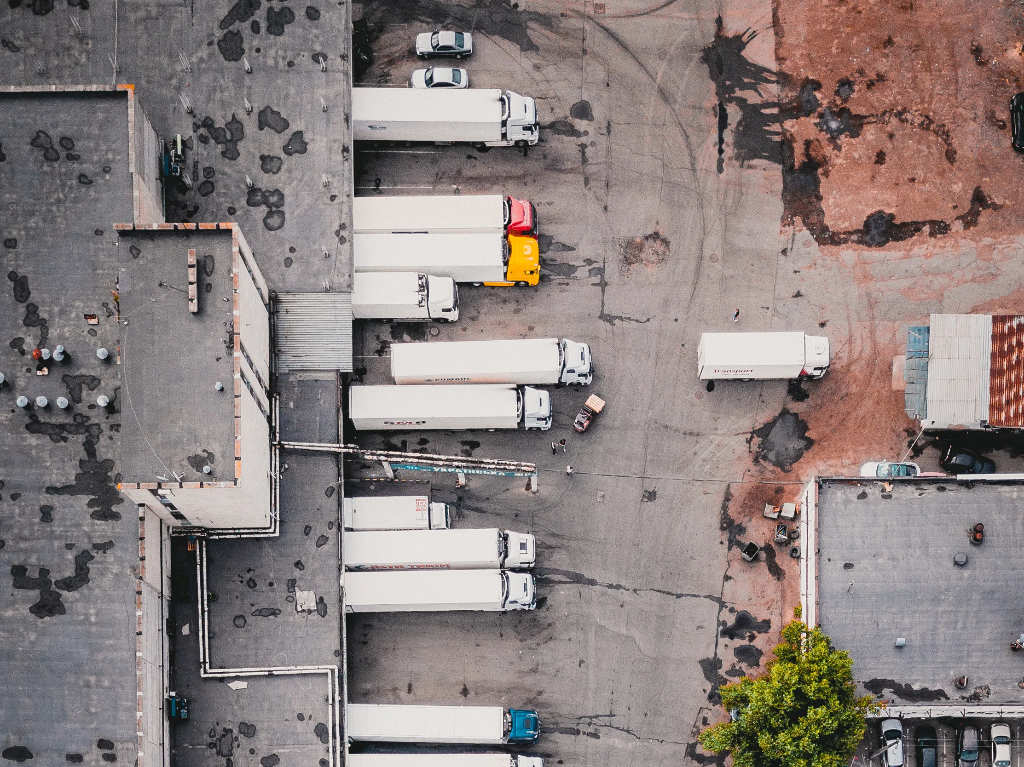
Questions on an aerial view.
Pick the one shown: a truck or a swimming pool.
truck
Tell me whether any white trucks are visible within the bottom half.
Yes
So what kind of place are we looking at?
industrial area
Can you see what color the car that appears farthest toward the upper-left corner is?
black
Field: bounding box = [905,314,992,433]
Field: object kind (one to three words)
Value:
shed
